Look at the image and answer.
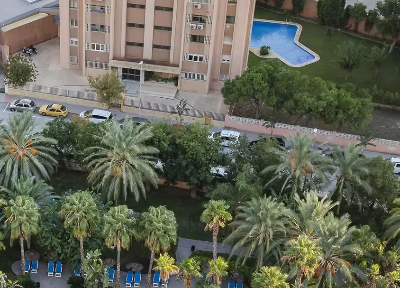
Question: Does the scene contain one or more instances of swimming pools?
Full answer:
Yes, there is a swimming pool in the image.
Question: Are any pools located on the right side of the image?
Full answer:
Yes, there is a pool on the right side of the image.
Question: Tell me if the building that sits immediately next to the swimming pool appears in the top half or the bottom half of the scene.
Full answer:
It is in the top half that the building that sits immediately next to the swimming pool appears.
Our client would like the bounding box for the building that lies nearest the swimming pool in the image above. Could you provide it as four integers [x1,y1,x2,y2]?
[60,0,273,107]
